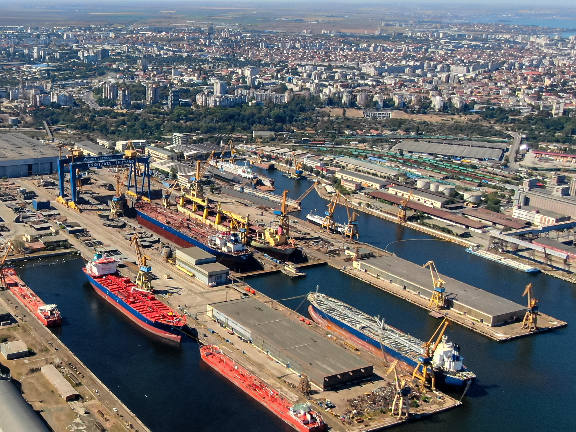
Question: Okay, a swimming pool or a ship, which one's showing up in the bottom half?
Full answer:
Looking in the bottom half, you will find a ship.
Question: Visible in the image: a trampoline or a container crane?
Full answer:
Visible in the photo is a container crane.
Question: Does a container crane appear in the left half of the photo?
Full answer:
Yes, there is a container crane in the left half of the photo.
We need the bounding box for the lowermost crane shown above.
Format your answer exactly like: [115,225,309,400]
[377,356,421,425]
